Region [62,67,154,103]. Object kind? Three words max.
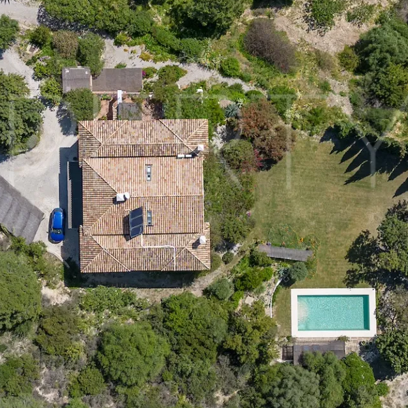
shed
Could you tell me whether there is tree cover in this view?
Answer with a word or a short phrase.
Yes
